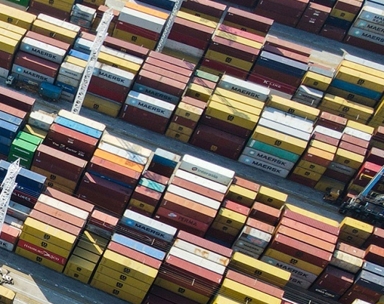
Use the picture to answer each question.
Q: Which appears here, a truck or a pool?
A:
truck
